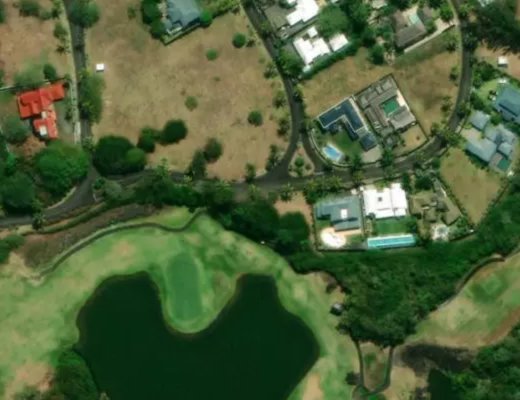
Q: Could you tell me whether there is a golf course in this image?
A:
Yes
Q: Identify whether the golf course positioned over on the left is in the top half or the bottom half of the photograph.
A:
bottom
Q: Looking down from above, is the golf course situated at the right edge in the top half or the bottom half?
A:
bottom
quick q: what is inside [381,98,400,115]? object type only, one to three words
swimming pool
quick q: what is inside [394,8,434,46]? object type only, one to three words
house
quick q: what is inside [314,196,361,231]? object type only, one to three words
house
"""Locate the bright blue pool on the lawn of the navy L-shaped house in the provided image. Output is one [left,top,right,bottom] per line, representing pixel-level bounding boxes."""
[320,142,344,162]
